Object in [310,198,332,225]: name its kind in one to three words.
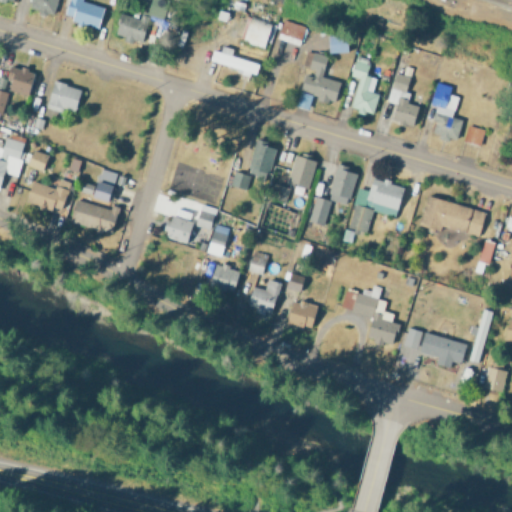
building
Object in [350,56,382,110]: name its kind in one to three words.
house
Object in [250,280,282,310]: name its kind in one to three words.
house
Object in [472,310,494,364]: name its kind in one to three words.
barn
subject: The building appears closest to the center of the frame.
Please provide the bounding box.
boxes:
[249,252,268,275]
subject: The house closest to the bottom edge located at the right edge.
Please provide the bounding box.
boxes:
[488,368,510,393]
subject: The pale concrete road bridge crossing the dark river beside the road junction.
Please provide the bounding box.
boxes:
[354,412,404,512]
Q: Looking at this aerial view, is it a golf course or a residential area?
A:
residential area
